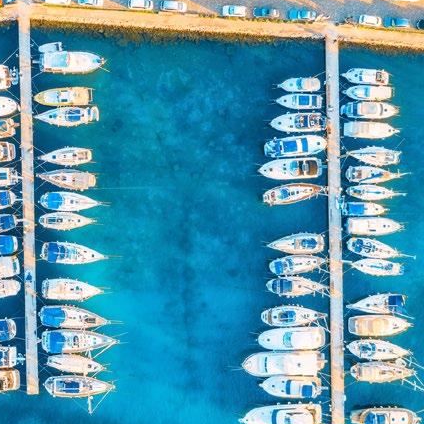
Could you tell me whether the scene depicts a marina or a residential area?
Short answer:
marina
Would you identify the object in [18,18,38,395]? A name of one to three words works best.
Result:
pier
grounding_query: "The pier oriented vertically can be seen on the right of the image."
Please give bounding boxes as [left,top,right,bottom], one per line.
[324,39,345,424]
